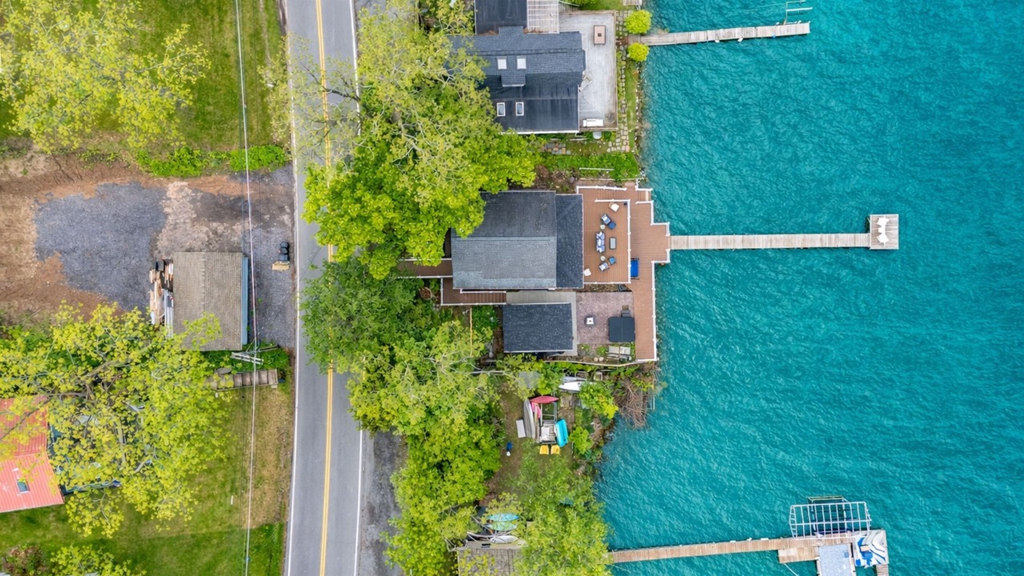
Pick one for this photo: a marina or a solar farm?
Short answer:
marina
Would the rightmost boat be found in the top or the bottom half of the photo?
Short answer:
bottom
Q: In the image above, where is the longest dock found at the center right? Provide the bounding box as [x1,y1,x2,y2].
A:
[671,233,869,249]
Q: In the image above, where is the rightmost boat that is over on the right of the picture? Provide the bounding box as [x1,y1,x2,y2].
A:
[816,542,854,576]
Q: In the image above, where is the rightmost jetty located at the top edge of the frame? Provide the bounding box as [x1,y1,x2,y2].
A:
[642,20,811,47]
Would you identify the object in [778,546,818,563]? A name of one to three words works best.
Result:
pier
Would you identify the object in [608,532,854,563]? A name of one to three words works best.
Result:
pier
